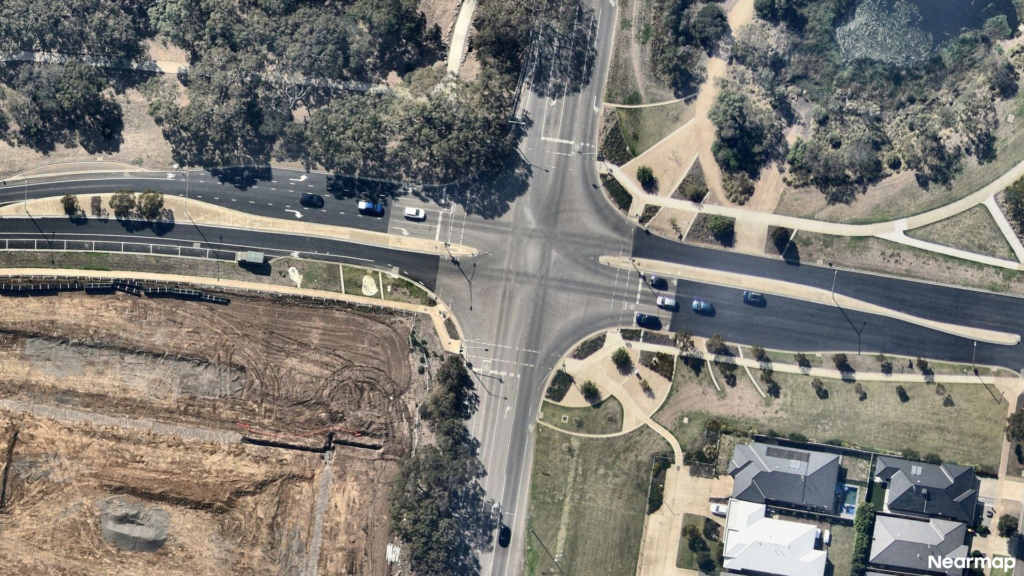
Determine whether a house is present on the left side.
No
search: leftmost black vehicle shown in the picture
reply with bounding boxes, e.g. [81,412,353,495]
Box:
[299,193,324,206]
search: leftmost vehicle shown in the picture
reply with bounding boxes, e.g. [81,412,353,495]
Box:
[236,251,265,265]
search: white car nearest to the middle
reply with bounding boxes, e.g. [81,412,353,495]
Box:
[403,207,427,219]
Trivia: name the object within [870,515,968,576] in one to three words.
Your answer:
house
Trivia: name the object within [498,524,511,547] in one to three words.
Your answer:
vehicle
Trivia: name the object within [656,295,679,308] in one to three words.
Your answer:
vehicle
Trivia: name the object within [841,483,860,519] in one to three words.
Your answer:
swimming pool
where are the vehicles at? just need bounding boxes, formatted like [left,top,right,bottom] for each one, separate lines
[236,251,265,265]
[357,200,385,214]
[498,524,511,547]
[741,290,765,304]
[635,313,661,326]
[650,276,669,287]
[299,193,324,206]
[692,300,715,312]
[707,504,728,517]
[656,295,679,308]
[403,207,427,219]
